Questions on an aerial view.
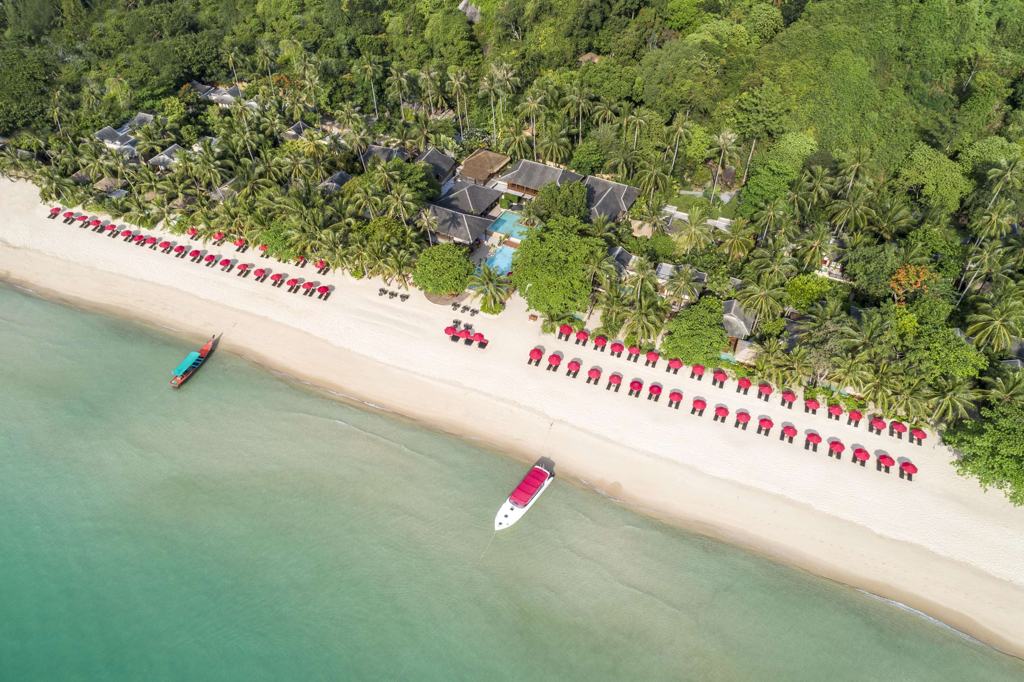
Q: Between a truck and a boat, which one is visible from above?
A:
boat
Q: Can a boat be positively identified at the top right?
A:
No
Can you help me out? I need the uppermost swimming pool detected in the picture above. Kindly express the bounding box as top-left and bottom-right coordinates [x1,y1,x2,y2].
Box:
[486,210,547,245]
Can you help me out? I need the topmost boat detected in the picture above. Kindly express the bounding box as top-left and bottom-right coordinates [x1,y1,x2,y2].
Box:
[169,332,210,390]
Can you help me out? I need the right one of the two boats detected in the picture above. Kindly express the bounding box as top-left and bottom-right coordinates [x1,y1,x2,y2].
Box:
[494,464,557,534]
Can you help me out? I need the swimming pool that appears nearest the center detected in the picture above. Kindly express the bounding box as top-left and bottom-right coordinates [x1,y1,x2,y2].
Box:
[472,246,520,293]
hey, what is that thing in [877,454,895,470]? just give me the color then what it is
red umbrella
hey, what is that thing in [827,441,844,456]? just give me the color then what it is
red umbrella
